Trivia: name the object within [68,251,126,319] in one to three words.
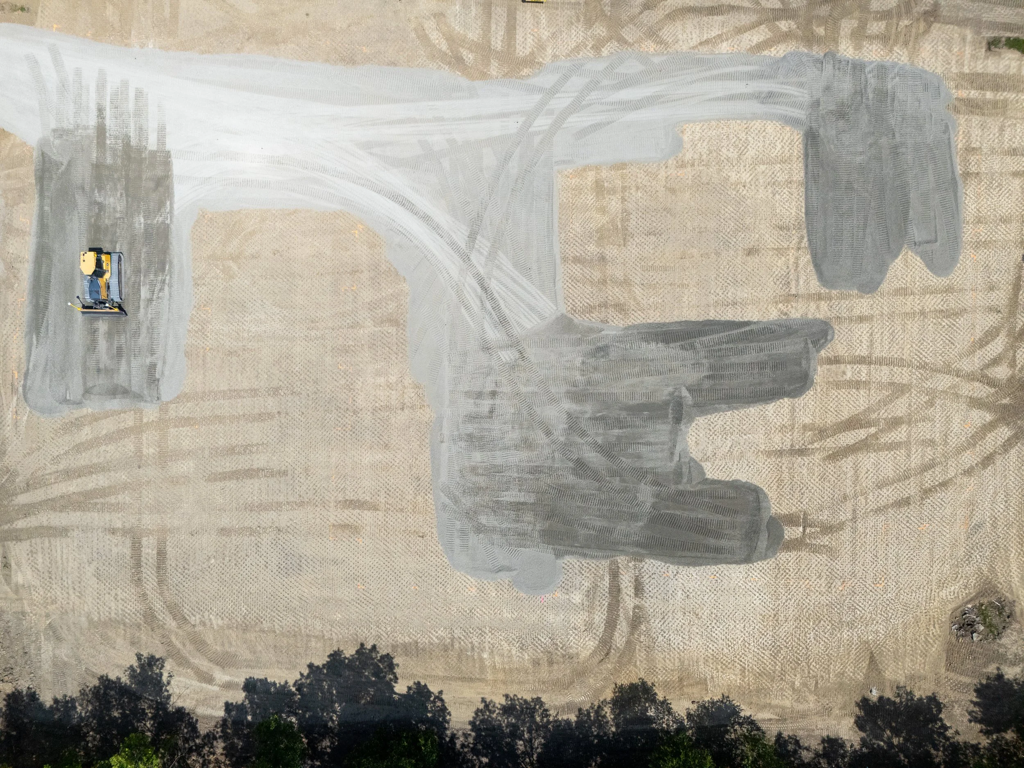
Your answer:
work vehicle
